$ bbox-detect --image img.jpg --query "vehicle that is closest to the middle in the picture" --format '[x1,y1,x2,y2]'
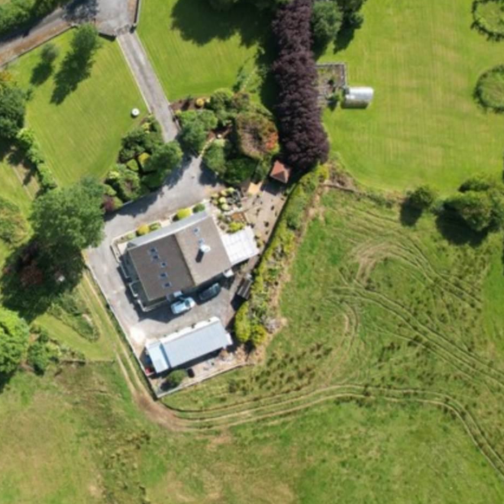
[196,284,222,302]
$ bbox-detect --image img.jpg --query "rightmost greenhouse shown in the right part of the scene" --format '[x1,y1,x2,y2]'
[344,87,376,106]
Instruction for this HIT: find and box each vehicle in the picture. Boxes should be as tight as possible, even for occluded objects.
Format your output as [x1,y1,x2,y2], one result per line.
[170,297,195,315]
[196,284,222,302]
